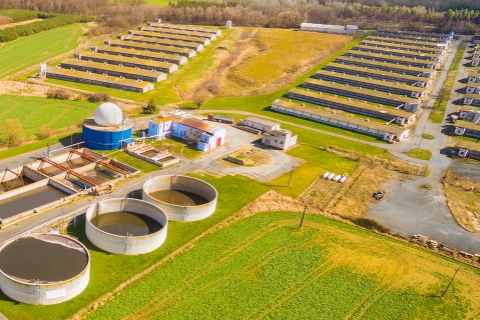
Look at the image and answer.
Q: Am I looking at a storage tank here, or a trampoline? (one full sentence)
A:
I can see a storage tank in this picture.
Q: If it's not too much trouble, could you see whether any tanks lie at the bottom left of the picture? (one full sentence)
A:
Yes, the scene does show a tank at the bottom left of the picture.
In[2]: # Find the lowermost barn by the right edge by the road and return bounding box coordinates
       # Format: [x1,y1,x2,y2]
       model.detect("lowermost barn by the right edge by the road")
[450,136,480,158]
